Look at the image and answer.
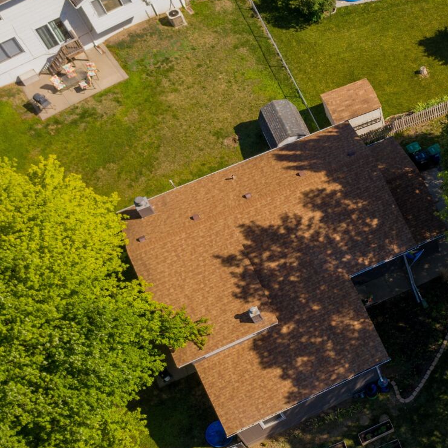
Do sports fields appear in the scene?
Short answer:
No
